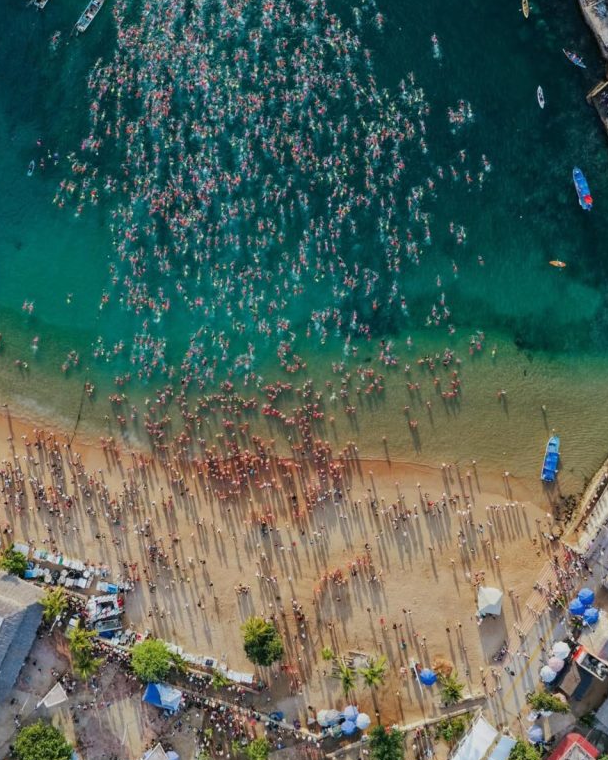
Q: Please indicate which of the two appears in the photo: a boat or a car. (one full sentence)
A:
Visible in the photo is a boat.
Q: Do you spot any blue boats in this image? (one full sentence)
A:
Yes, I can see a blue boat in this picture.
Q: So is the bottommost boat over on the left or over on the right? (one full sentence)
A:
You can find the bottommost boat on the right side of the picture.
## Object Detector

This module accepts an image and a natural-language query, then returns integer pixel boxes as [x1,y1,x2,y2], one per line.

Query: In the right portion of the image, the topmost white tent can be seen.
[476,583,502,612]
